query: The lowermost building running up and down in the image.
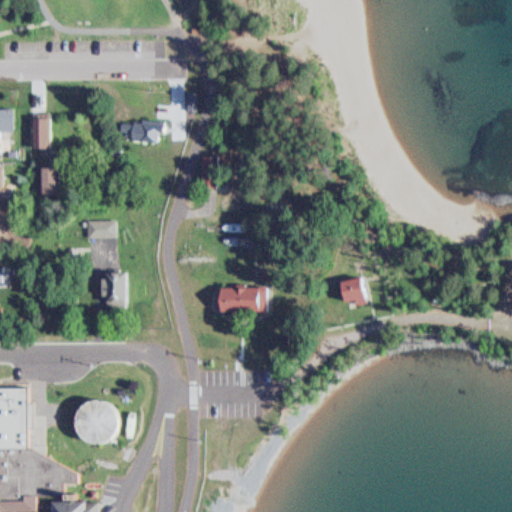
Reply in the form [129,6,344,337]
[0,386,32,450]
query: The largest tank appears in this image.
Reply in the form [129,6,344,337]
[72,400,124,446]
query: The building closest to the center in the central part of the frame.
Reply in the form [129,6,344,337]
[220,286,269,312]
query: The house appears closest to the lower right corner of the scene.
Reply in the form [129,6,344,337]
[340,276,370,308]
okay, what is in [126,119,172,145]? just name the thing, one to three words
house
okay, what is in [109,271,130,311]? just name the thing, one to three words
house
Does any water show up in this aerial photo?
Yes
